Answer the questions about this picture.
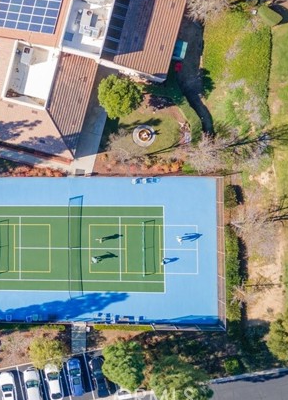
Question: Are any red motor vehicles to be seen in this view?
No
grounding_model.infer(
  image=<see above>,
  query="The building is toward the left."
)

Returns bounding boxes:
[0,0,188,167]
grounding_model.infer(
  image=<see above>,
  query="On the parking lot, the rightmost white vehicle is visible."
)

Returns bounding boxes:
[45,362,64,400]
